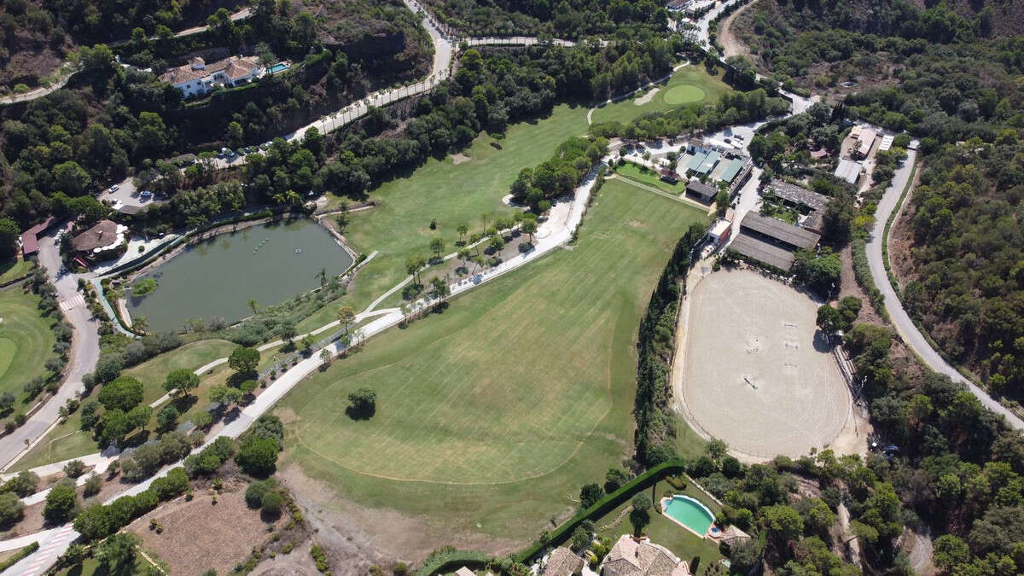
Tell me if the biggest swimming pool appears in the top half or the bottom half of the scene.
bottom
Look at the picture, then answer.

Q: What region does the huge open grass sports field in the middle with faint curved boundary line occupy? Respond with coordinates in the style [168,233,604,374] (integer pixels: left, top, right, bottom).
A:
[277,175,709,566]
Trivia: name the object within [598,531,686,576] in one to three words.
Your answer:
house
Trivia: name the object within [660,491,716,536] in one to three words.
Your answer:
swimming pool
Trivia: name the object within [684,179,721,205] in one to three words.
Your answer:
shed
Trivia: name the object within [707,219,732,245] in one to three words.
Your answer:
building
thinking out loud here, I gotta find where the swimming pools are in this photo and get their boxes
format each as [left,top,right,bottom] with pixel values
[660,491,716,536]
[267,62,288,73]
[707,524,722,537]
